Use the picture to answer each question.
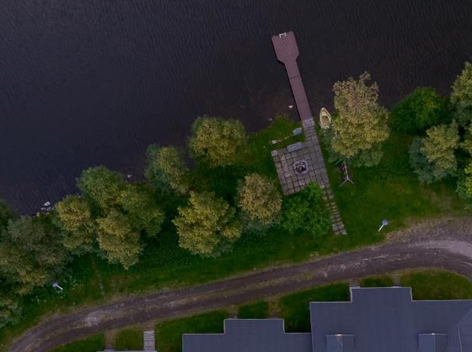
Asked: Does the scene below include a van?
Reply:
No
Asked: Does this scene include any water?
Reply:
Yes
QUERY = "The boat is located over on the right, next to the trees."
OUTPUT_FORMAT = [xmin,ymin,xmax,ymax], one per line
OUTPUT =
[318,107,331,129]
